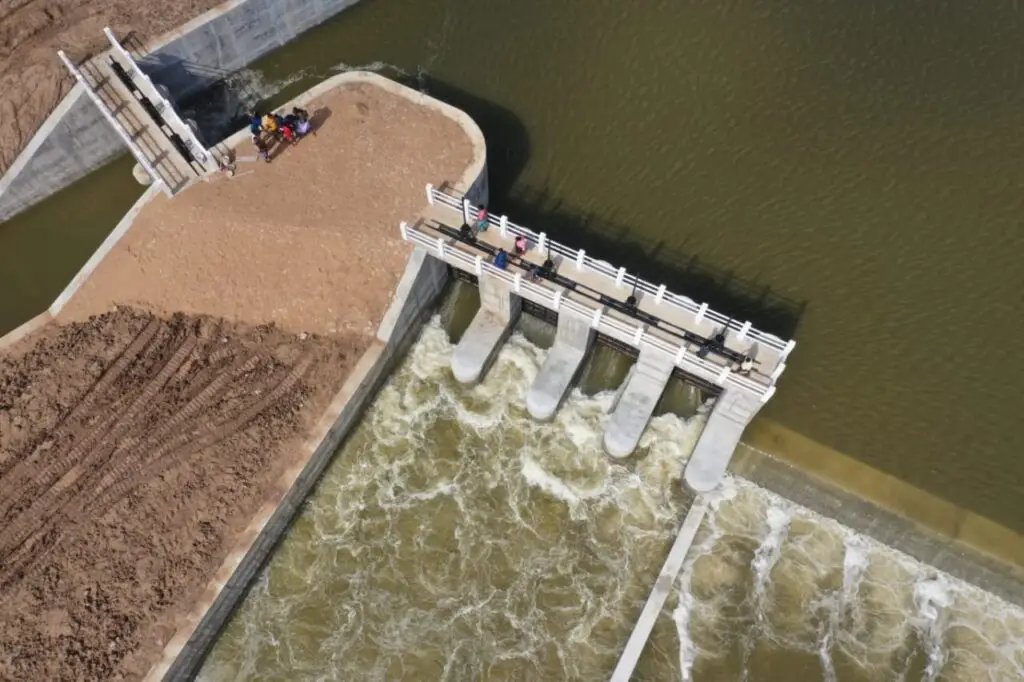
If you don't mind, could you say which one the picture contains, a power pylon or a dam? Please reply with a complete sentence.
There is a dam in the scene.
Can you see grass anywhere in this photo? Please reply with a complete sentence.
No, the scene doesn't show any grass.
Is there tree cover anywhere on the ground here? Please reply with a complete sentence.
No, there's no tree cover in this view.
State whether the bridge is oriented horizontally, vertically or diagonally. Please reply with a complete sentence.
The bridge is laid out diagonally.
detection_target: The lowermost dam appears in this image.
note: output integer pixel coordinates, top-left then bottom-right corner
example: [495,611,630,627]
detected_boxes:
[728,445,1024,608]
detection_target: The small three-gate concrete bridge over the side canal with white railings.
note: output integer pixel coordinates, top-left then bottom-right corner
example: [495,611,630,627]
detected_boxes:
[59,26,219,207]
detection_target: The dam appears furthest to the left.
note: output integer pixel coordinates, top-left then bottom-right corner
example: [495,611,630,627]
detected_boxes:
[399,180,798,498]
